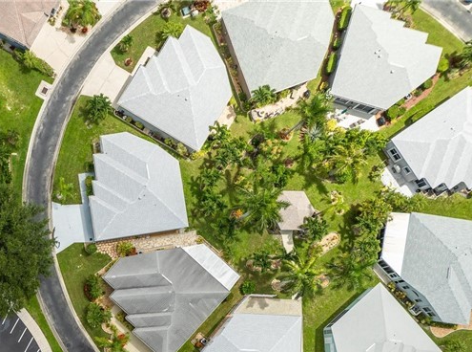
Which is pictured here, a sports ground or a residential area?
residential area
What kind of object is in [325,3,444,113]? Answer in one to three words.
house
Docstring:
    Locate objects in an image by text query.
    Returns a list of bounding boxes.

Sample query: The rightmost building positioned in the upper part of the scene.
[386,82,472,189]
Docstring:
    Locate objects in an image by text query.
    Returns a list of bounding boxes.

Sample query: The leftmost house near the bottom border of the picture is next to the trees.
[102,243,240,352]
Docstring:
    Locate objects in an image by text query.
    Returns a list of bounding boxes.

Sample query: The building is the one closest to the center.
[271,191,314,231]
